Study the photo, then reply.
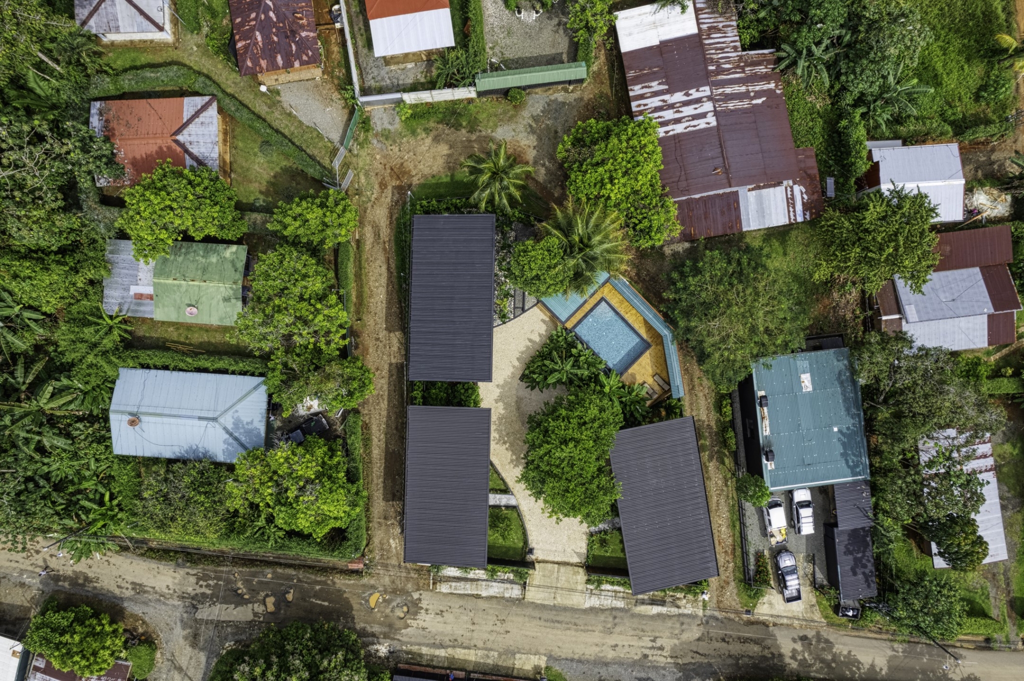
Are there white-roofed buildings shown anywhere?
Yes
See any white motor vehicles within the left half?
No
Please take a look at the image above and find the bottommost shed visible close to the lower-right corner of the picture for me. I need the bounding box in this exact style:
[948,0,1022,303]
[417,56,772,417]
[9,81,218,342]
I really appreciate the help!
[818,518,878,602]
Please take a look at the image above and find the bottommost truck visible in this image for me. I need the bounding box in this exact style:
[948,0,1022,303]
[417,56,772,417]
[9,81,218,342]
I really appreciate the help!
[773,547,803,605]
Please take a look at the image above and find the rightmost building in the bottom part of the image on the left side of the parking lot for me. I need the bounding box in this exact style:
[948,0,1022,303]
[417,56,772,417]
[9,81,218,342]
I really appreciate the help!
[608,415,721,596]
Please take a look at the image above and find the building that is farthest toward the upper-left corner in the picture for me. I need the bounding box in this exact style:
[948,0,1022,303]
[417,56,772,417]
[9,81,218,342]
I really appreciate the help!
[75,0,173,41]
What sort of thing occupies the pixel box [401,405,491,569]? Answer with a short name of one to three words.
building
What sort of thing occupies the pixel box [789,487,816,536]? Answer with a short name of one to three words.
truck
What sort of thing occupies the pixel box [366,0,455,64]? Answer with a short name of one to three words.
house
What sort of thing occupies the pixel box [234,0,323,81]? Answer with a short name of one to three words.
house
